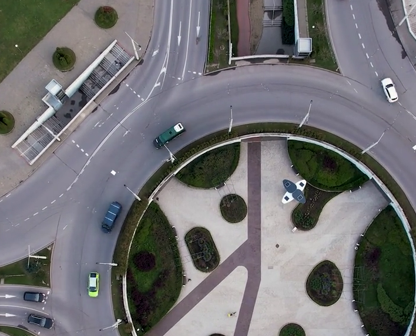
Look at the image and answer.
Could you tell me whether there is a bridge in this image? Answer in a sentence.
No, the frame has no bridge in it.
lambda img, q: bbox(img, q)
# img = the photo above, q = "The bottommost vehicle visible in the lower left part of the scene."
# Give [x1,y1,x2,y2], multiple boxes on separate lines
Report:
[28,313,55,329]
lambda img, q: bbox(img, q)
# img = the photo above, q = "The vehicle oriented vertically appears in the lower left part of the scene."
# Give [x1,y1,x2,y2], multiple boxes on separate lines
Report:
[87,271,100,297]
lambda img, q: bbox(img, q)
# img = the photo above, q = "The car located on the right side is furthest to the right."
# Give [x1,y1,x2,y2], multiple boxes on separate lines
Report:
[381,77,397,104]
